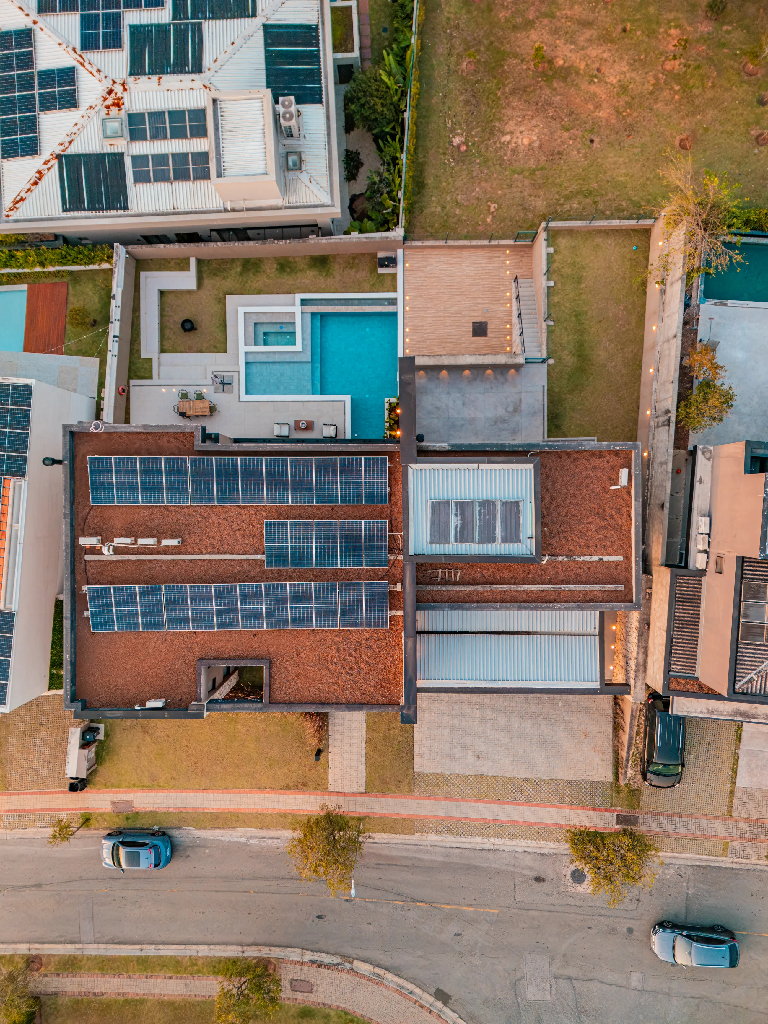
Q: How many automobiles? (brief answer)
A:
3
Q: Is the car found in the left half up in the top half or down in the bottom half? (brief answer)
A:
bottom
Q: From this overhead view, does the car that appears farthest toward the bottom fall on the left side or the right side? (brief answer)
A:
right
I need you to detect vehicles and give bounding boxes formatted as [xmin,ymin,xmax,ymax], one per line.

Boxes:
[640,694,687,787]
[100,830,171,872]
[650,920,744,974]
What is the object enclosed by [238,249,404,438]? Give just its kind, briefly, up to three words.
swimming pool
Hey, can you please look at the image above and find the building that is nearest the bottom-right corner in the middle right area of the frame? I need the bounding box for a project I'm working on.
[644,440,768,724]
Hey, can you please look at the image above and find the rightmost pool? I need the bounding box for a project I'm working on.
[698,237,768,306]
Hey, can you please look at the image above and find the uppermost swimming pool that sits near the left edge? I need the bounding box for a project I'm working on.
[0,284,27,352]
